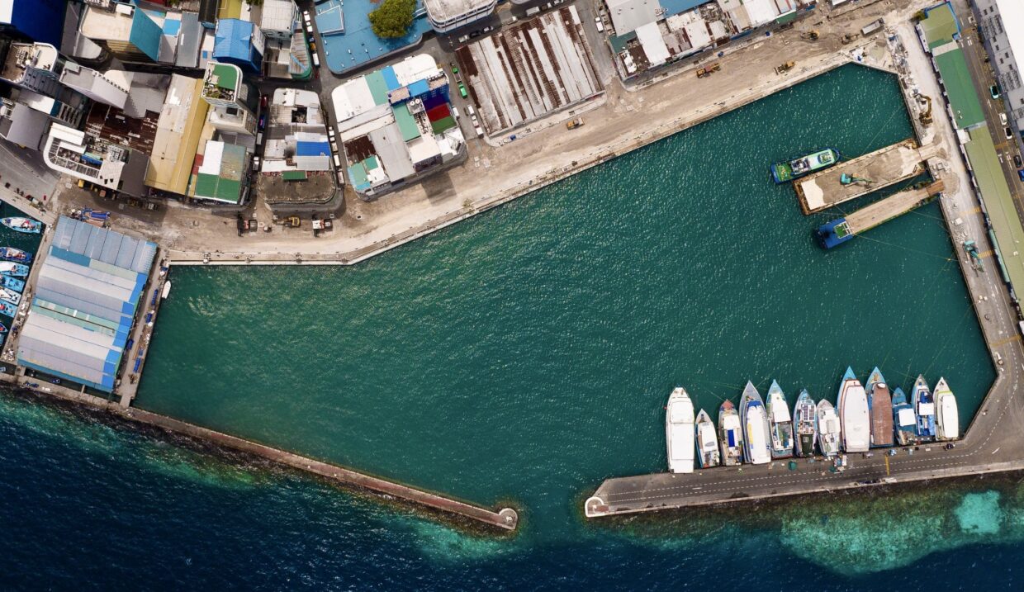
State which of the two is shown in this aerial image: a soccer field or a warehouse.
warehouse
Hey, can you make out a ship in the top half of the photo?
Yes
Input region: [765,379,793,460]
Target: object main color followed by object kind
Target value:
white boat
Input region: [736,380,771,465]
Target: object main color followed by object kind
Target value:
white boat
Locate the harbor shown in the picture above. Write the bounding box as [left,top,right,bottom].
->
[128,50,1001,440]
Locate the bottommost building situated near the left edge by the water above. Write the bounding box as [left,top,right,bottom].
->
[15,216,160,396]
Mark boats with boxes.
[0,298,17,316]
[736,380,771,465]
[0,216,45,235]
[931,377,961,441]
[815,400,840,457]
[792,389,817,457]
[765,379,793,460]
[0,286,21,304]
[867,367,897,448]
[893,387,916,446]
[0,321,10,331]
[0,247,35,264]
[835,367,876,454]
[716,400,742,467]
[0,262,31,278]
[910,374,939,440]
[664,383,695,474]
[769,148,842,184]
[693,410,717,469]
[0,335,7,345]
[0,274,25,291]
[163,281,172,299]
